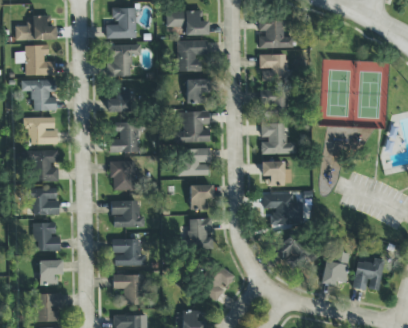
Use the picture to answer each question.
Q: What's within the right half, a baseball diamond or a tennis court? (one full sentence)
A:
The feature located within the right half is a tennis court.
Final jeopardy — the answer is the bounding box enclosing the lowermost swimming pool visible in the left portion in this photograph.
[140,46,154,70]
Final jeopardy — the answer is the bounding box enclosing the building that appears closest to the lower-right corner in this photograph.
[354,259,386,292]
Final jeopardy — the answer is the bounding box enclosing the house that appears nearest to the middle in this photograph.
[180,147,212,176]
